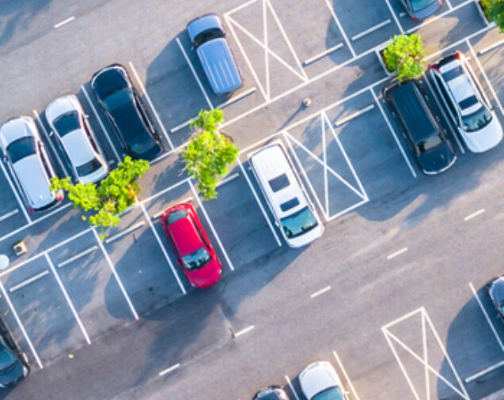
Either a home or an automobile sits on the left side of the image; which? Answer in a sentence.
The feature located on the left side of the image is an automobile.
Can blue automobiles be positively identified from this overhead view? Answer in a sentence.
Yes, this view includes a blue automobile.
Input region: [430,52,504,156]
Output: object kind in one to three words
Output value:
car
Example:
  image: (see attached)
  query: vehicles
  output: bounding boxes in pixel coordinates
[0,302,31,390]
[248,138,326,251]
[300,359,350,400]
[44,94,110,185]
[186,11,246,96]
[430,52,504,156]
[0,116,64,212]
[399,0,443,24]
[384,75,459,179]
[161,200,226,290]
[92,63,162,165]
